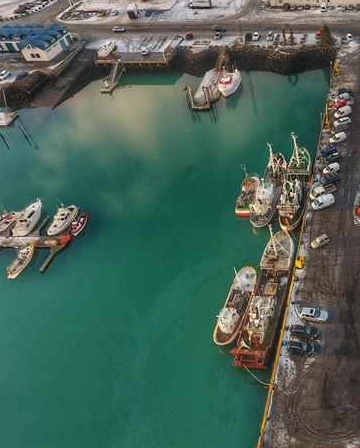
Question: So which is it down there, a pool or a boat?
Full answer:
The one in the frame is a boat.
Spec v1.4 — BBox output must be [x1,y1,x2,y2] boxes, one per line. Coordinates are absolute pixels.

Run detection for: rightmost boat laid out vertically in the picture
[276,116,310,236]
